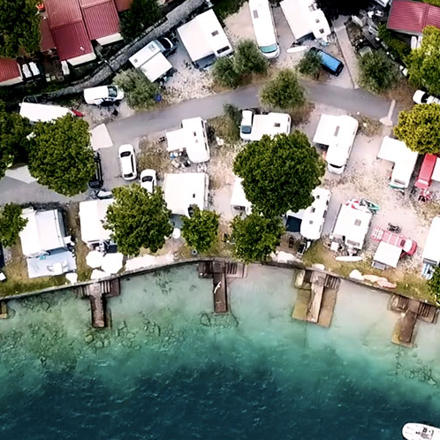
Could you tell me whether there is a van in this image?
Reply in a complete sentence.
Yes, the image includes a van.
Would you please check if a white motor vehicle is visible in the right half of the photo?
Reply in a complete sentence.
Yes, in the right half of the photo there is a white motor vehicle.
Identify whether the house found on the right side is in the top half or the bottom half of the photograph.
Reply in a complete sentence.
Seen from above, the house found on the right side lies in the top half of the view.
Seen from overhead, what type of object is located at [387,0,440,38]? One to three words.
house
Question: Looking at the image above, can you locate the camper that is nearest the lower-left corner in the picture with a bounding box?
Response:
[21,208,75,259]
